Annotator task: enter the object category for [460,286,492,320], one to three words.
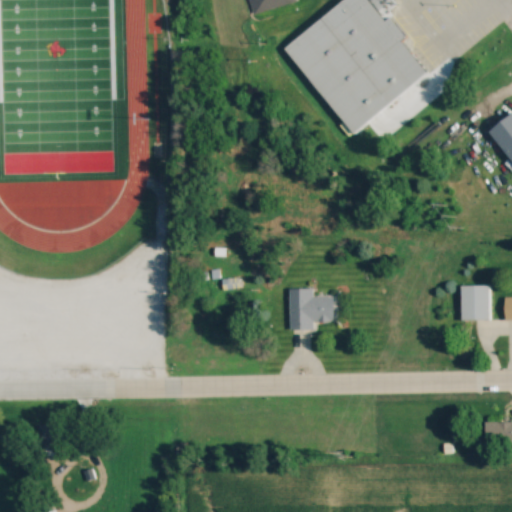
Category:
house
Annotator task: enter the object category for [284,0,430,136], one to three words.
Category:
building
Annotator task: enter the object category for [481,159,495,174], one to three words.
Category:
camper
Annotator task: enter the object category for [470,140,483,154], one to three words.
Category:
vehicle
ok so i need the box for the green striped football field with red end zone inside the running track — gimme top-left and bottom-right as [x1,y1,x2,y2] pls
[0,0,128,183]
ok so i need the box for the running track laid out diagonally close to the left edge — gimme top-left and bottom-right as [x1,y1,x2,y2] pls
[0,0,150,252]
